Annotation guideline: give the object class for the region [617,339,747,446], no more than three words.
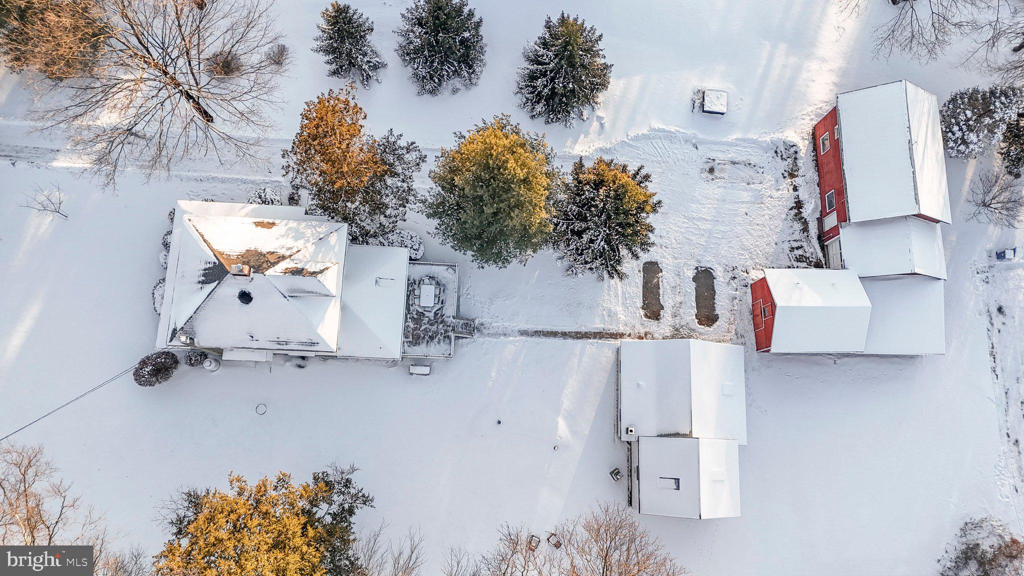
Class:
building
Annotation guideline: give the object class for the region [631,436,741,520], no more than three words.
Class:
building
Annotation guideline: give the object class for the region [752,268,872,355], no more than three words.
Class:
barn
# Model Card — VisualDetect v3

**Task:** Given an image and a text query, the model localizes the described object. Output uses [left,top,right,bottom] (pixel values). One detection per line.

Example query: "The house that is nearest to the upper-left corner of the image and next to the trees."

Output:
[155,201,409,373]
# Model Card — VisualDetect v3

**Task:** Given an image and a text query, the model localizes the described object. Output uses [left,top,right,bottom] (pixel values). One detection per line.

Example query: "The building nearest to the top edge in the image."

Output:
[814,79,952,225]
